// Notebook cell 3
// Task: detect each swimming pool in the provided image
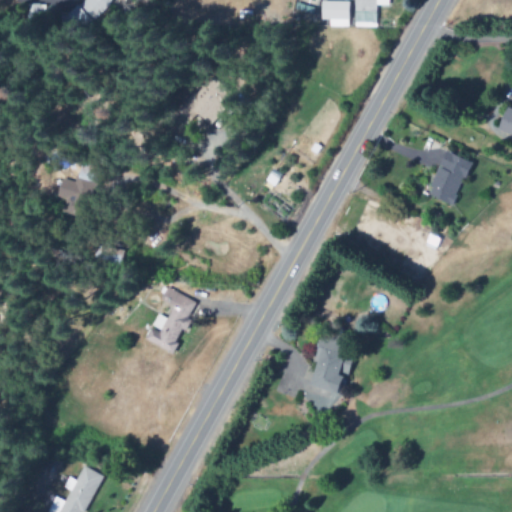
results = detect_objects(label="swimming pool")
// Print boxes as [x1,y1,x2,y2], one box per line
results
[369,293,387,311]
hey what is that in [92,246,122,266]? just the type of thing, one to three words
house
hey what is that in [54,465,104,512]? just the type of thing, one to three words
house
